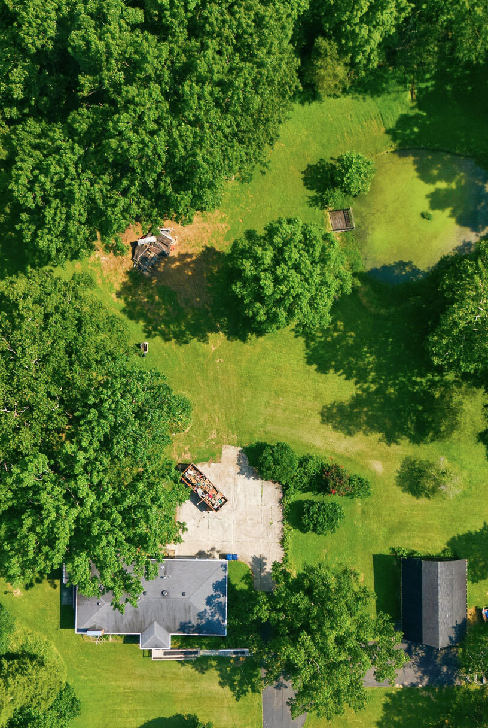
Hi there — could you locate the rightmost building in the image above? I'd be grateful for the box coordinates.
[401,556,468,651]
